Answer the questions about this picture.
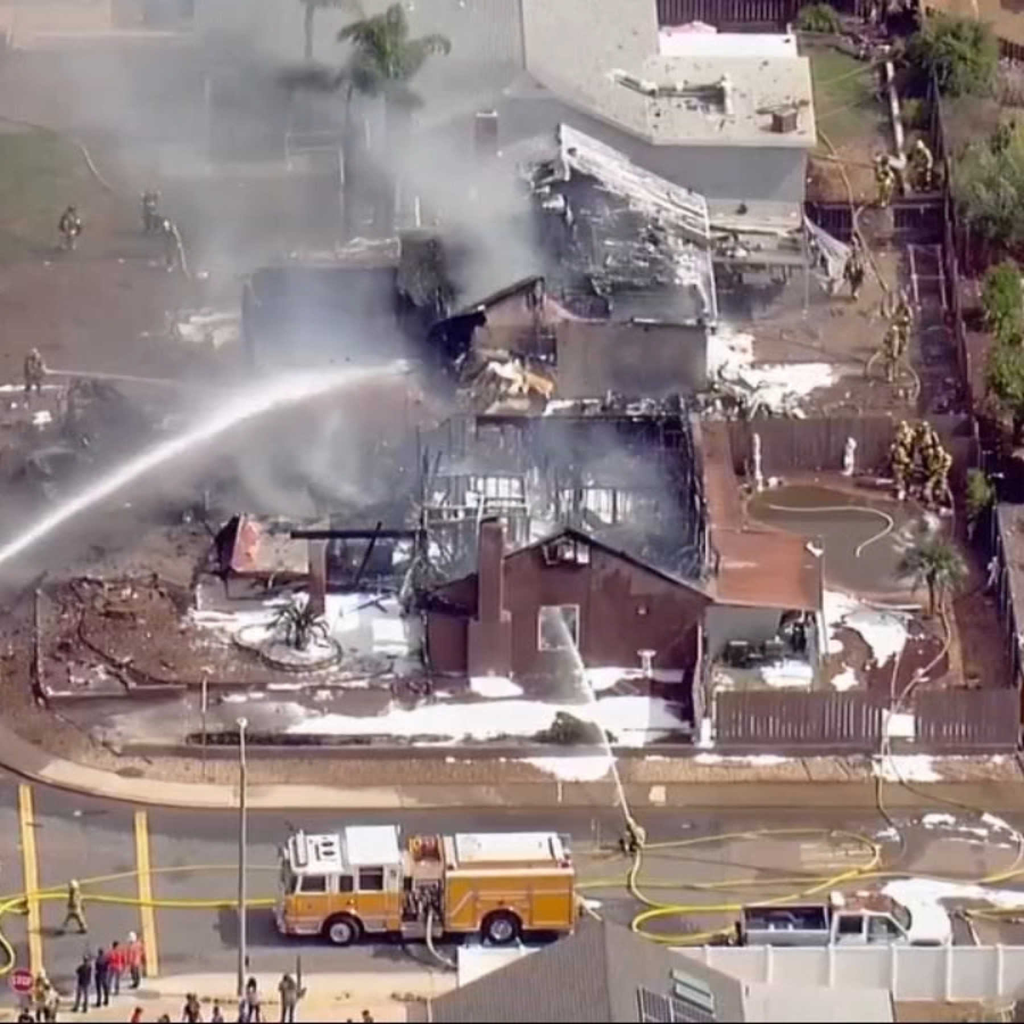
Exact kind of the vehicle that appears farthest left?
truck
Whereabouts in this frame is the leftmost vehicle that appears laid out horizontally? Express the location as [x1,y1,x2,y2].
[267,820,583,942]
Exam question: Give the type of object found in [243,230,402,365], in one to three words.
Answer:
building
